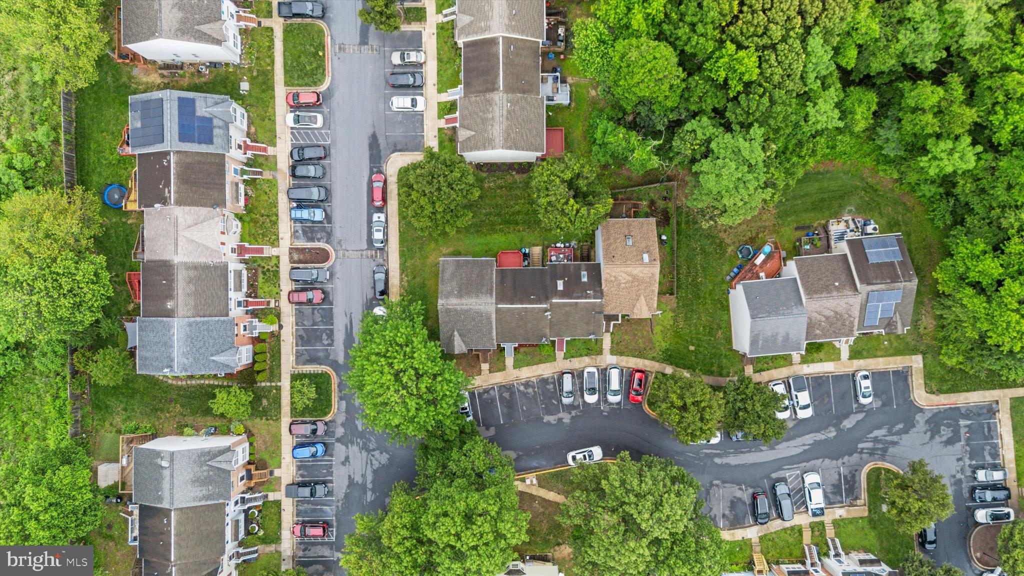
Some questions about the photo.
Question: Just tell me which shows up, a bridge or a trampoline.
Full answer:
It is a trampoline that can be seen here.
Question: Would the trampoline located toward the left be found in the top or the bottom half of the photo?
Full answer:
The top half of the photo is where the trampoline located toward the left is.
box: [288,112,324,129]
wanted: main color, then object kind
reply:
white car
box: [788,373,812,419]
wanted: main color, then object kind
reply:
white truck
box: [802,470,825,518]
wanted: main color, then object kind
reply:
white truck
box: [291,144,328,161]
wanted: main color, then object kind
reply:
gray car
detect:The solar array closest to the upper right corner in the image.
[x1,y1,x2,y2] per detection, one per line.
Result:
[863,236,903,262]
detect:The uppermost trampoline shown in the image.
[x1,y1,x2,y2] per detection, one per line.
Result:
[96,183,127,207]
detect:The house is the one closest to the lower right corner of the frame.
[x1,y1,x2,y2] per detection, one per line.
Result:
[821,538,900,576]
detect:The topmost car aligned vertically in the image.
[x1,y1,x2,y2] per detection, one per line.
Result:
[370,173,387,208]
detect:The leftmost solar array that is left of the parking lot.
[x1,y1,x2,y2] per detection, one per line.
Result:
[130,99,162,146]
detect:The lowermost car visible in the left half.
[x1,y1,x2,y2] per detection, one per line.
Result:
[293,521,330,539]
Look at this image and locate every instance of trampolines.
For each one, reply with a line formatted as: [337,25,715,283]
[736,244,758,260]
[96,183,127,207]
